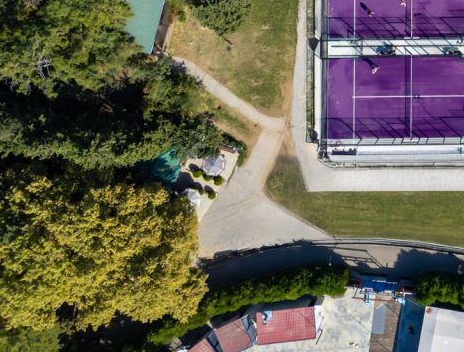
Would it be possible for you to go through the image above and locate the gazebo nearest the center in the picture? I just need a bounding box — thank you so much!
[204,154,225,175]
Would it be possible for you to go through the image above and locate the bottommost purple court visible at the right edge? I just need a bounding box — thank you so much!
[321,54,464,144]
